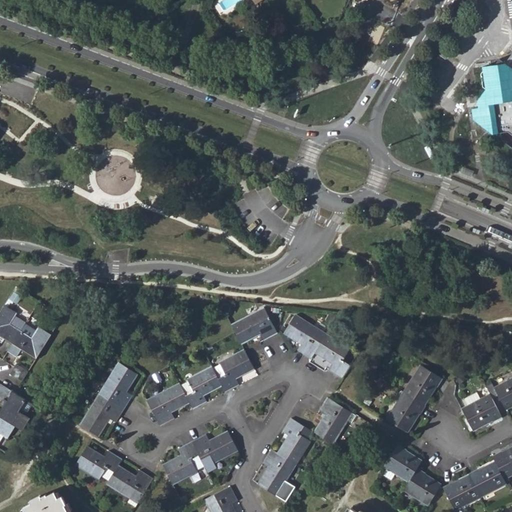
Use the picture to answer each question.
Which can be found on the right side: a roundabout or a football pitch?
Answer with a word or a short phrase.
roundabout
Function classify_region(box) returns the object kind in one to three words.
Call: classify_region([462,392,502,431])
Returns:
house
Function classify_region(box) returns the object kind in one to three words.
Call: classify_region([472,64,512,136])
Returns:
building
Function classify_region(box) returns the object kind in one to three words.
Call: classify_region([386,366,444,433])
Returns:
house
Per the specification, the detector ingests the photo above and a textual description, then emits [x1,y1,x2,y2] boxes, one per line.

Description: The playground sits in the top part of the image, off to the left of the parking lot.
[90,150,142,209]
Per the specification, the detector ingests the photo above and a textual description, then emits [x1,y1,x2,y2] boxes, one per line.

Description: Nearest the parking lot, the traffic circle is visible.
[306,128,382,206]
